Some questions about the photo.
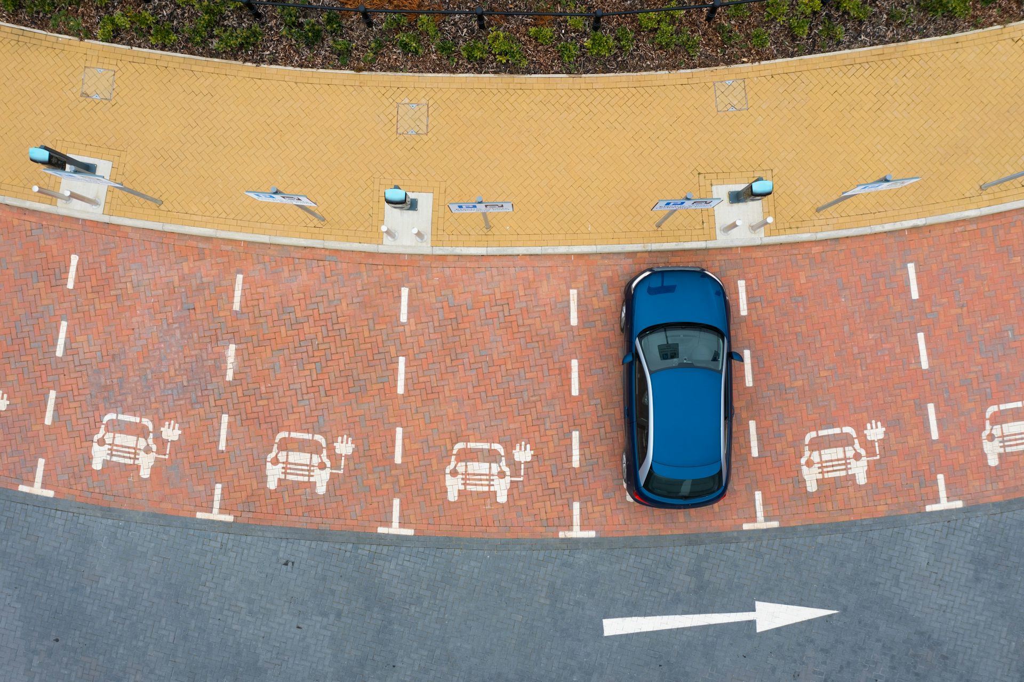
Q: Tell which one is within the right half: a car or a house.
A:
car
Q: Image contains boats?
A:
No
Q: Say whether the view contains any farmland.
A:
No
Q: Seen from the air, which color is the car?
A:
blue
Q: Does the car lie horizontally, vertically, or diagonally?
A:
vertically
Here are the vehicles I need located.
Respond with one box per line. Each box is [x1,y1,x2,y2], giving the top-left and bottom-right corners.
[619,266,743,510]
